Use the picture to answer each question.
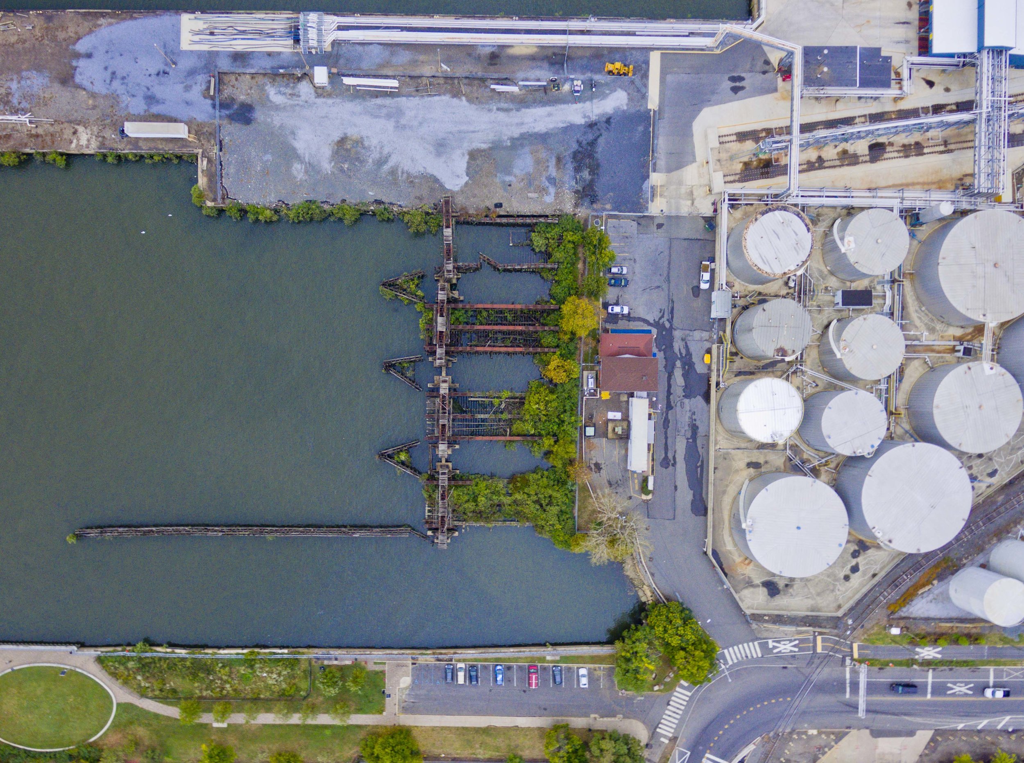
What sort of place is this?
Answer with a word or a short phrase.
industrial area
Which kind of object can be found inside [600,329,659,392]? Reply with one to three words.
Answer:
building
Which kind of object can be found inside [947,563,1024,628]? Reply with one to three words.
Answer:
silo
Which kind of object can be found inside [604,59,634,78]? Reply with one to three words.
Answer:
work vehicle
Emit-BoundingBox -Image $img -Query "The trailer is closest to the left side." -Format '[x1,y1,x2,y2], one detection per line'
[125,122,191,139]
